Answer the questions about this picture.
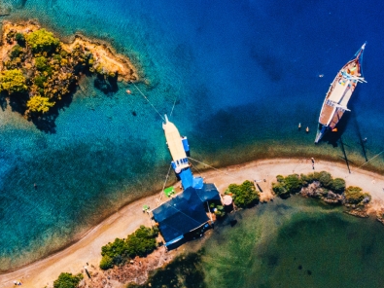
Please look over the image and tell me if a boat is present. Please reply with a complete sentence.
Yes, a boat appears in the view.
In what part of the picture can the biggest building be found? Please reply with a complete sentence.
The biggest building sits in the bottom section of the image.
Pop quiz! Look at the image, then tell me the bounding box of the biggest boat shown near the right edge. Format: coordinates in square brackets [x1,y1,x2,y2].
[314,42,375,143]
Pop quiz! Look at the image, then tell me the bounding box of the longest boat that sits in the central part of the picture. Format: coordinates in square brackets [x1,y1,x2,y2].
[165,114,195,173]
